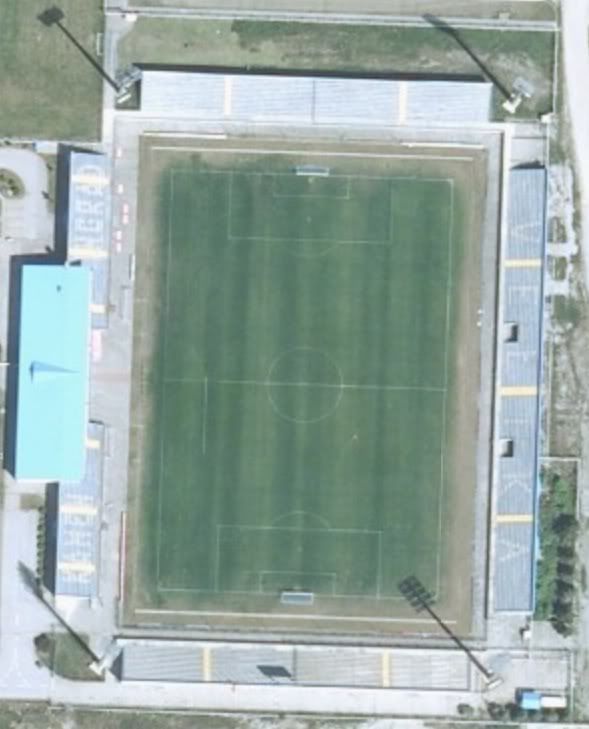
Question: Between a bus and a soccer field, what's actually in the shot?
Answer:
soccer field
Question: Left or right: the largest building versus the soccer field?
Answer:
left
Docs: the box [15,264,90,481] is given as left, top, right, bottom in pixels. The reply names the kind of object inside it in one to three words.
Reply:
building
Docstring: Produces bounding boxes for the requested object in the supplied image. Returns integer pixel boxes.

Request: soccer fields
[124,136,486,637]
